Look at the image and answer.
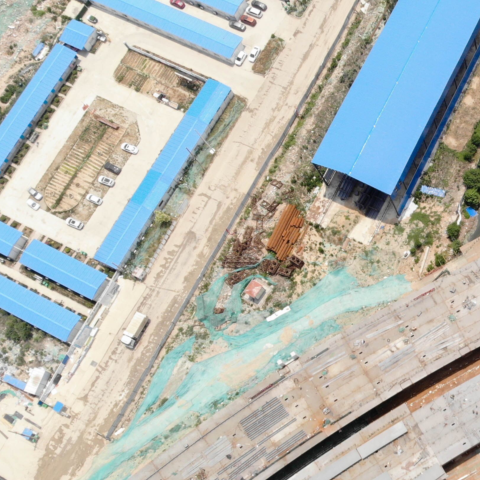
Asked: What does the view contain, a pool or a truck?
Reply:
truck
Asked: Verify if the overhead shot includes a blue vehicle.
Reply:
No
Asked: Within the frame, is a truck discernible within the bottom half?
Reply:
Yes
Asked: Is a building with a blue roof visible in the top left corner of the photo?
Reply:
Yes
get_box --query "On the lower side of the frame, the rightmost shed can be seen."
[241,277,273,307]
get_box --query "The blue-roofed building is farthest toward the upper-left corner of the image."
[60,20,98,54]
